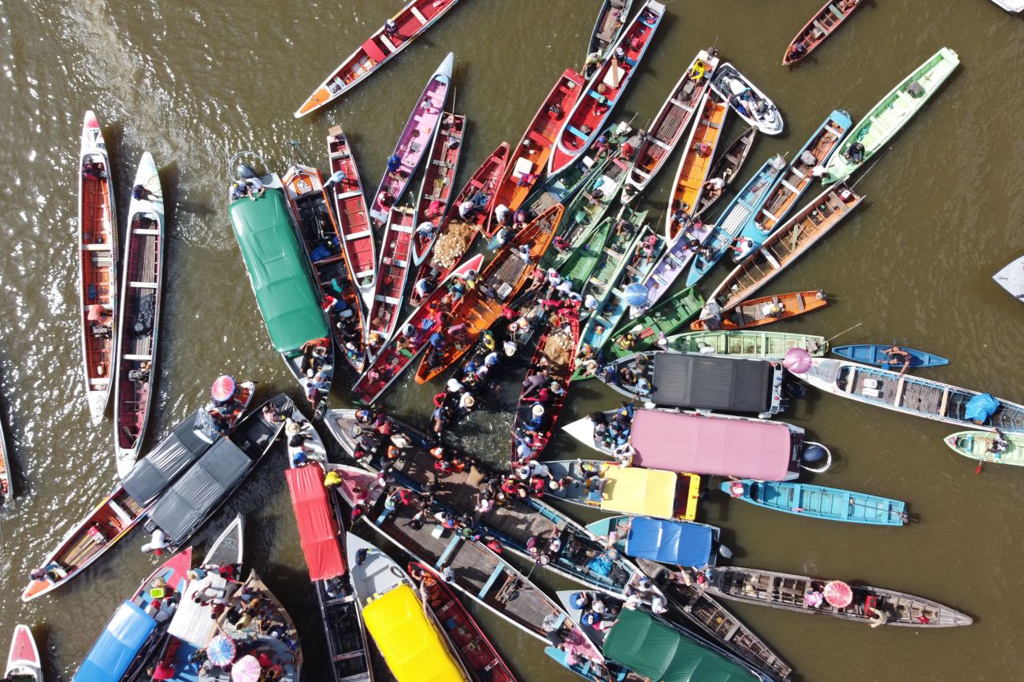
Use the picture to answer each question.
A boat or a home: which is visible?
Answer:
boat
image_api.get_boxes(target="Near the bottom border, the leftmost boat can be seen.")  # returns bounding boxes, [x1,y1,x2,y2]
[7,622,49,682]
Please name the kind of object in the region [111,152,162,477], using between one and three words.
boat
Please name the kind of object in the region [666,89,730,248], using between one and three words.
boat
